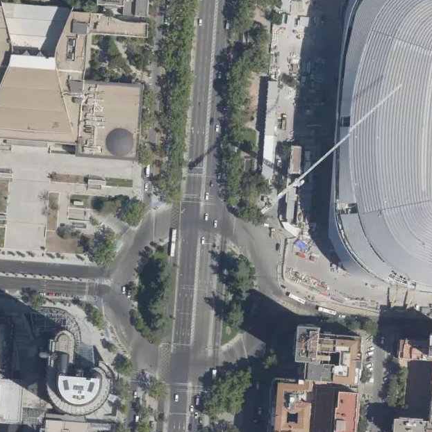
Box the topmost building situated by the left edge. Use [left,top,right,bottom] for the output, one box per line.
[0,3,148,161]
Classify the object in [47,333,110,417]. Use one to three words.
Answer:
building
